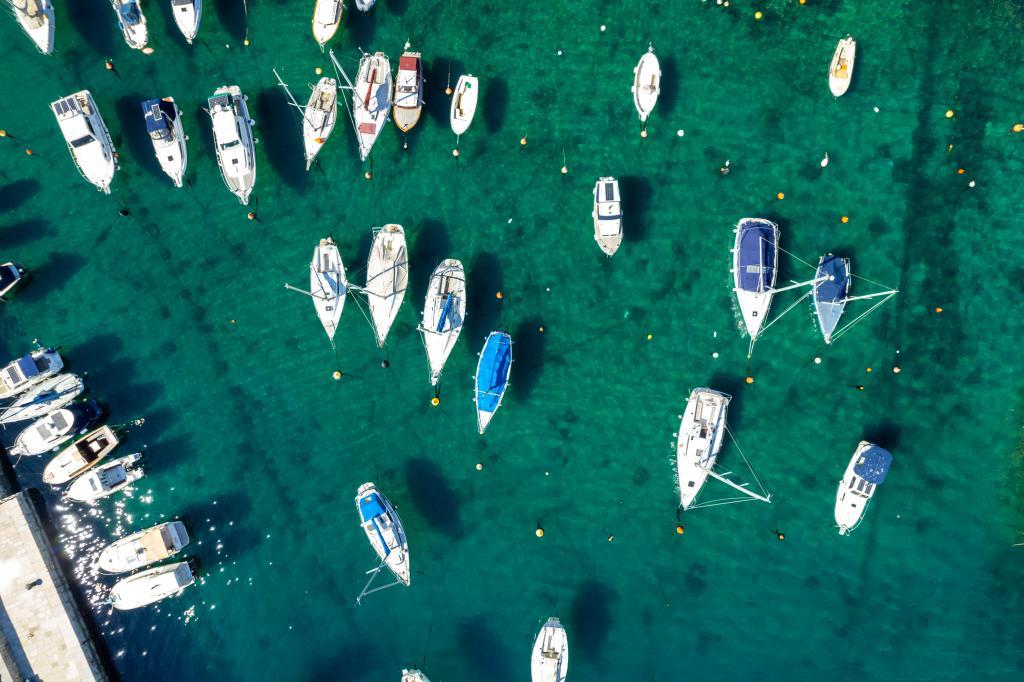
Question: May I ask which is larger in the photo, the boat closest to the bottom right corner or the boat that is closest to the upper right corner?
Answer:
the boat closest to the bottom right corner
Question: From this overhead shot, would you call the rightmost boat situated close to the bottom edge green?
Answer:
No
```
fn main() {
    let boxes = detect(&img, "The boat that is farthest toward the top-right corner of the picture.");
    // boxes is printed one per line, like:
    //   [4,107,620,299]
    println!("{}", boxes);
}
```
[828,35,856,96]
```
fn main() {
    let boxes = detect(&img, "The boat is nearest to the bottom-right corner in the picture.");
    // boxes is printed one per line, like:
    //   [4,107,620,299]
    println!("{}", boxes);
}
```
[835,435,894,533]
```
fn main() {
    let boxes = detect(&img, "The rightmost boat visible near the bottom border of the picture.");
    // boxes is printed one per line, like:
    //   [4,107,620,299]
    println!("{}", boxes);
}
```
[531,601,572,682]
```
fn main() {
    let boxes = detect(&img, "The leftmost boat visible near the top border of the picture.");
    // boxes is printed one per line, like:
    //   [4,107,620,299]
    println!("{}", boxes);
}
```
[5,0,55,55]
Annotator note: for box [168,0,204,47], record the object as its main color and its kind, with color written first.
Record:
white boat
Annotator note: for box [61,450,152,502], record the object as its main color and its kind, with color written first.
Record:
white boat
